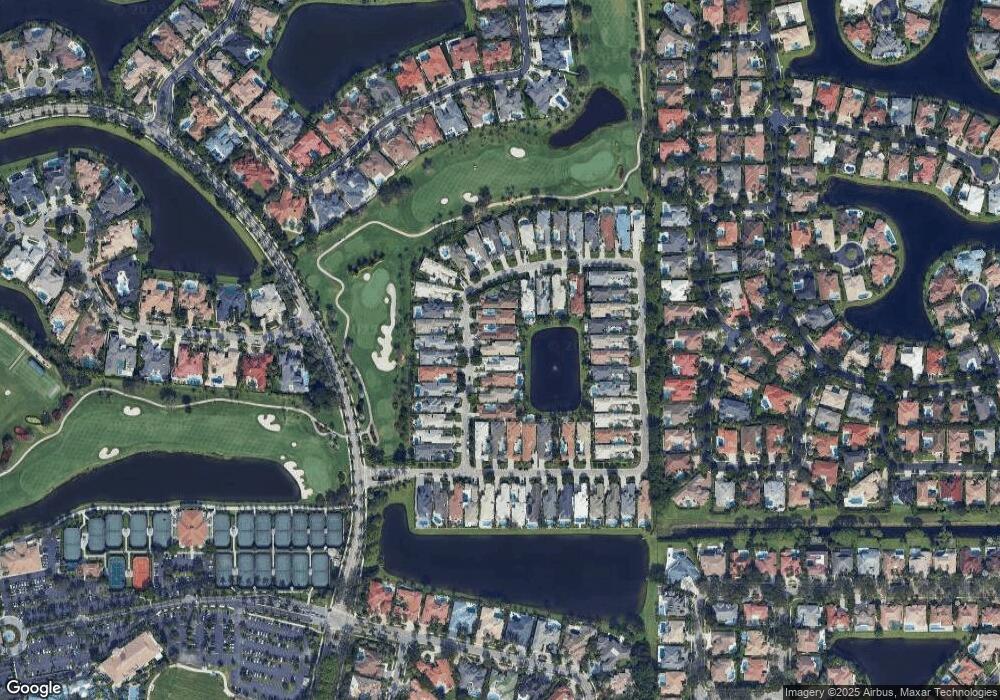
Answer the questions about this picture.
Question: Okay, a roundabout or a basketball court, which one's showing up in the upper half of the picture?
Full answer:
What appears in the upper half of the picture is a roundabout.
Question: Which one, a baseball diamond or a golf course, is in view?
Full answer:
There is a golf course in the scene.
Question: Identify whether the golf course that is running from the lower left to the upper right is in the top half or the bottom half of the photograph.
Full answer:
Seen from above, the golf course that is running from the lower left to the upper right lies in the top half of the view.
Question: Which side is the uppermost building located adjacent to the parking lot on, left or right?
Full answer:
You can find the uppermost building located adjacent to the parking lot on the left side of the picture.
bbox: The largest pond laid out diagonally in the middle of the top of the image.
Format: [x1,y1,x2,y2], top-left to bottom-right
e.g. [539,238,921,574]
[550,86,627,148]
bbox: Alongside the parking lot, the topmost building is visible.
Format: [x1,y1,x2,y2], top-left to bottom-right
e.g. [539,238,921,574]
[177,511,203,544]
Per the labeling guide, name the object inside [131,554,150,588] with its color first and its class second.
red tennis court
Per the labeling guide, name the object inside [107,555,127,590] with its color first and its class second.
blue tennis court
